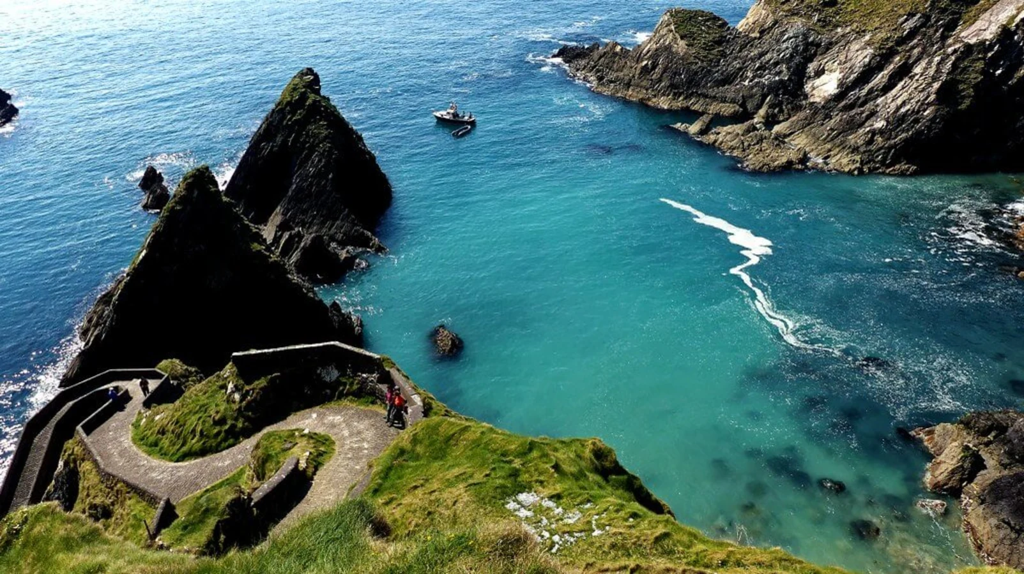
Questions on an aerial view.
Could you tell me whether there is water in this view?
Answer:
Yes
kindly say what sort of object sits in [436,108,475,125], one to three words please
boat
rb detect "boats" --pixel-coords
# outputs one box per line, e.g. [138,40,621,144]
[450,127,470,138]
[436,108,475,125]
